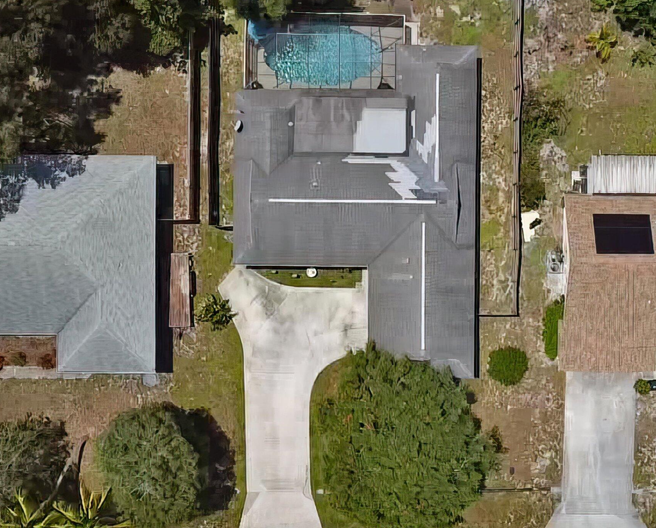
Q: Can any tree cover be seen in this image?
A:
Yes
